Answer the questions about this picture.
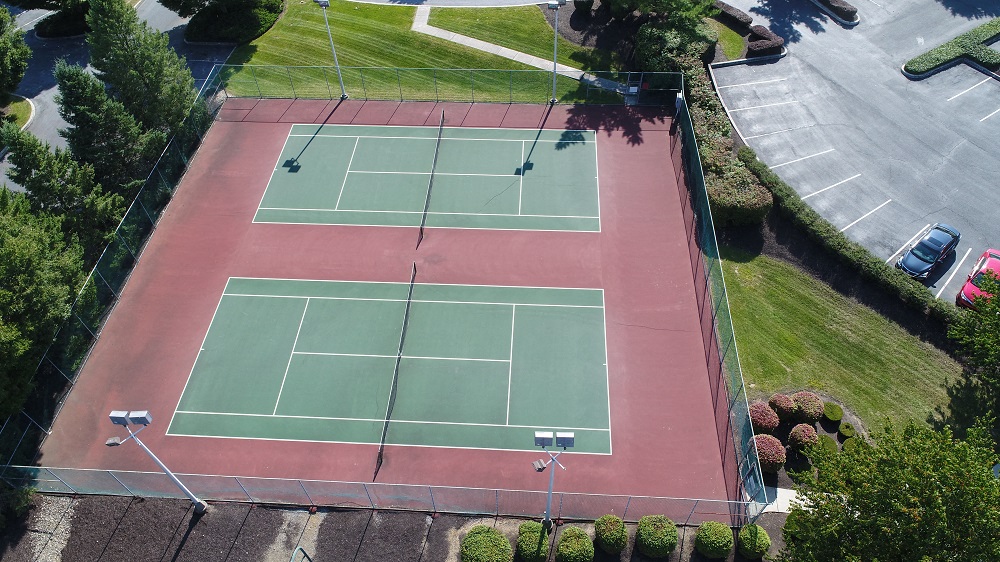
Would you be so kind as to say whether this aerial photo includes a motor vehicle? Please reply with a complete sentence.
Yes, the photo shows a motor vehicle.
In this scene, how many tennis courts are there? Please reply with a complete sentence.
Altogether the scene contains 2 tennis courts.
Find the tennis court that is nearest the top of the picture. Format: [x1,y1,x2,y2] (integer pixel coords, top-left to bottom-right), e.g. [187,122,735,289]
[253,124,601,233]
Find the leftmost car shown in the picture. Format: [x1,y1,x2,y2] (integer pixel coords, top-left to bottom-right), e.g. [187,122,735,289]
[899,224,962,280]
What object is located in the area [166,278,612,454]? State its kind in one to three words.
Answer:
tennis court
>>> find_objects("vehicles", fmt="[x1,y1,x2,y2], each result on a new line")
[899,224,962,280]
[950,251,1000,308]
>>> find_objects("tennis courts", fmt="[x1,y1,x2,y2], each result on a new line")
[253,124,601,233]
[166,278,612,454]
